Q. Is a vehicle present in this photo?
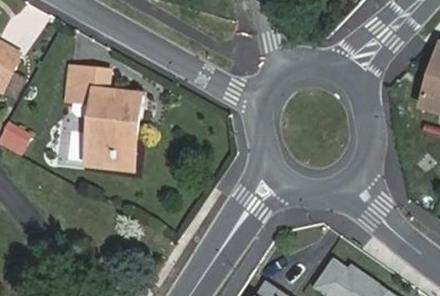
Yes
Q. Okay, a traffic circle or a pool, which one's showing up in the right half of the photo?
traffic circle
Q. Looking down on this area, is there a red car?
No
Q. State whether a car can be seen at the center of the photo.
No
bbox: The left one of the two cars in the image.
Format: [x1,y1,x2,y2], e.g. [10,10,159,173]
[266,256,286,273]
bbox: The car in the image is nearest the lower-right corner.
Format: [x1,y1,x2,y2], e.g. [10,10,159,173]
[286,263,306,282]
